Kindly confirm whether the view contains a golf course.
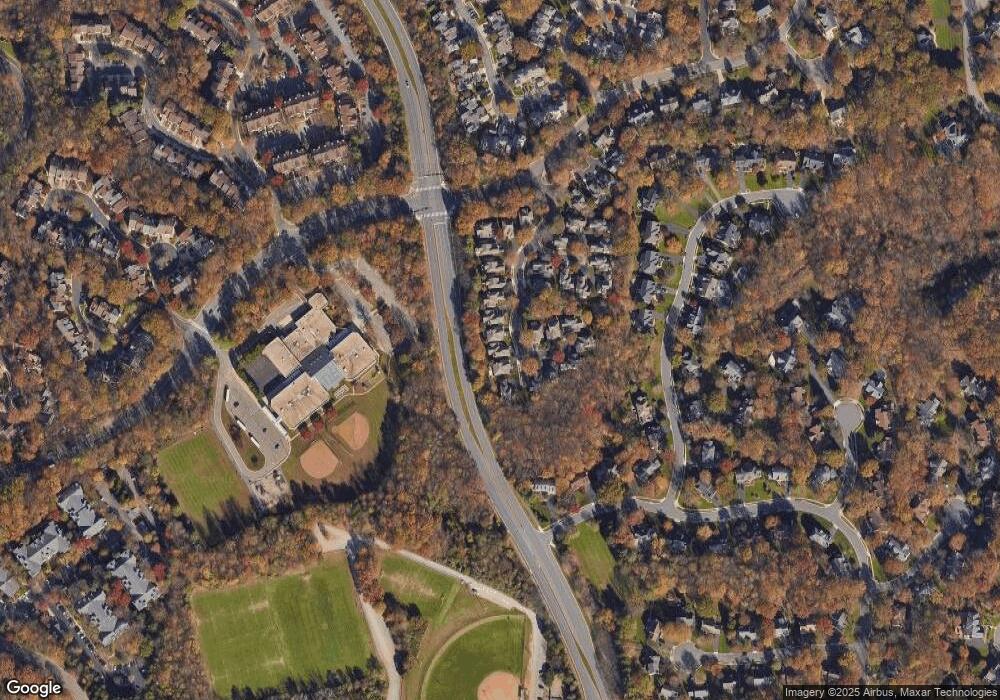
No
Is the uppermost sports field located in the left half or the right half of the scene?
left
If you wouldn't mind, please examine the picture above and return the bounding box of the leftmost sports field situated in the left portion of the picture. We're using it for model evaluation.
[157,430,250,528]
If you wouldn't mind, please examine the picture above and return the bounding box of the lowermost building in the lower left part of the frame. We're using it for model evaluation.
[75,588,132,645]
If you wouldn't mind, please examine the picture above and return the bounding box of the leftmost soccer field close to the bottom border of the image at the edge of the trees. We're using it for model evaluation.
[189,550,377,700]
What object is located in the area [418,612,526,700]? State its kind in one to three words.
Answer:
baseball field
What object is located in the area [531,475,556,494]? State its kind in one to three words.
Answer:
house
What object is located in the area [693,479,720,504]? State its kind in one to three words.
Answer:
house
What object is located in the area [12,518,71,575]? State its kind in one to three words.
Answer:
building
